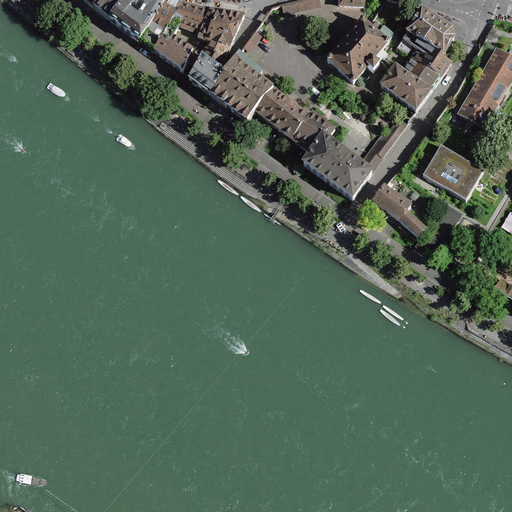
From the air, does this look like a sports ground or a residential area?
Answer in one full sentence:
The picture captures a residential area.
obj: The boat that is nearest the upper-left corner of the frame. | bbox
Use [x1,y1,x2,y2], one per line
[46,84,66,97]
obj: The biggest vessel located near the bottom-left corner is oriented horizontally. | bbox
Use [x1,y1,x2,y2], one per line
[14,472,48,486]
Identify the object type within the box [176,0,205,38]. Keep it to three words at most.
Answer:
house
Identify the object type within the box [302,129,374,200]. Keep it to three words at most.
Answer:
house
